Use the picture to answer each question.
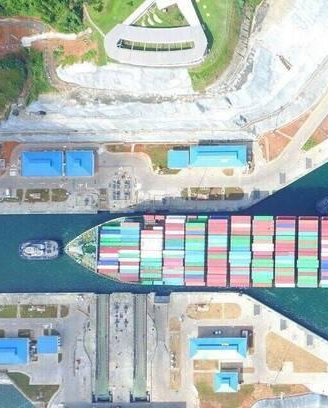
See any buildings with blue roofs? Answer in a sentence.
Yes, there's a building with a blue roof here.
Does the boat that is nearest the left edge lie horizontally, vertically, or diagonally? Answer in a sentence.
The boat that is nearest the left edge is laid out horizontally.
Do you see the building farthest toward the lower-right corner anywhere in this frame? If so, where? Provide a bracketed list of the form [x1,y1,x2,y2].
[214,371,240,392]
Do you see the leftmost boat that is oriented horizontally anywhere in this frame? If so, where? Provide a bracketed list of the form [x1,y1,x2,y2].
[18,240,60,259]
